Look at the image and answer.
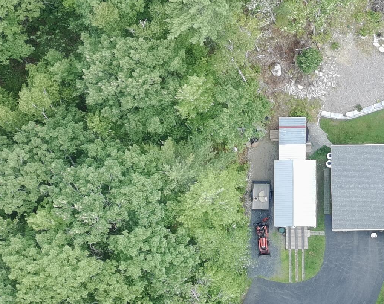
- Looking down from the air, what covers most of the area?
trees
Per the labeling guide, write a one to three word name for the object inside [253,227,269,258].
work vehicle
